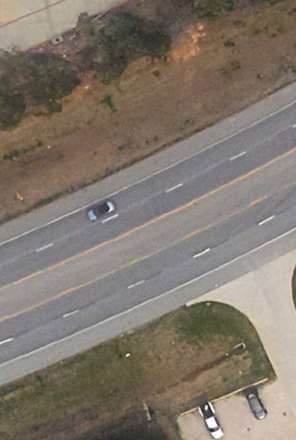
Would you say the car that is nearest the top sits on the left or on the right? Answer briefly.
left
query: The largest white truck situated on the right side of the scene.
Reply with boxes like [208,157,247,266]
[199,400,222,439]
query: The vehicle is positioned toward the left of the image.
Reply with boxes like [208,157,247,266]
[87,200,116,221]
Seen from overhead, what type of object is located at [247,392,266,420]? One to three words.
car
